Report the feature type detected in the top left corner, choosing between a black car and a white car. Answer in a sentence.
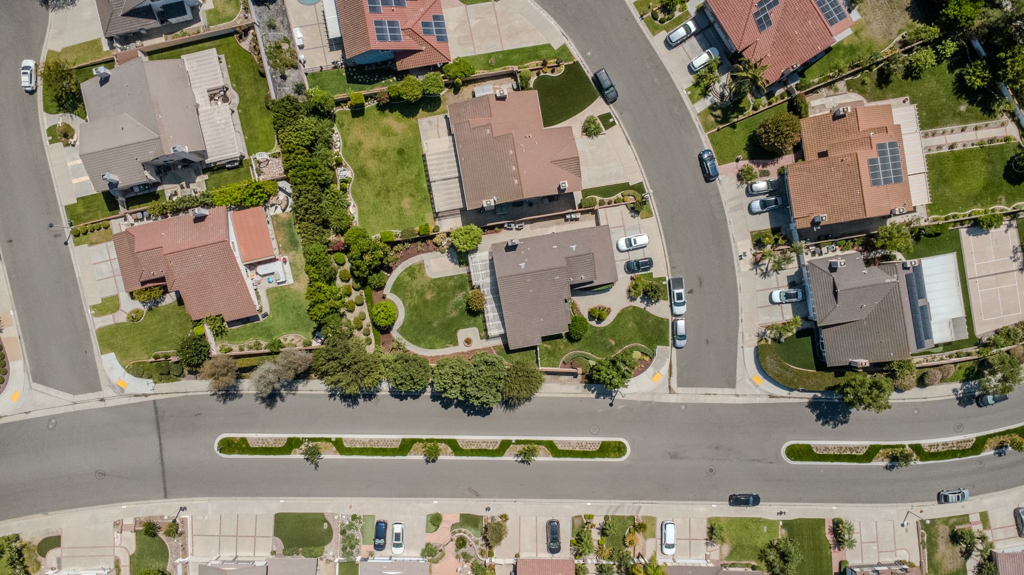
What appears in the top left corner is a white car.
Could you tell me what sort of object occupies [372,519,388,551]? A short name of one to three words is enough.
car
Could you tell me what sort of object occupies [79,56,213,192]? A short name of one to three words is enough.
house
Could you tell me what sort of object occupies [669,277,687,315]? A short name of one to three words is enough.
vehicle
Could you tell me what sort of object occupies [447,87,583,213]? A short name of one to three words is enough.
house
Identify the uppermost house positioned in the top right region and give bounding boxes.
[693,0,854,92]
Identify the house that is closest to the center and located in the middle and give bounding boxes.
[491,225,618,350]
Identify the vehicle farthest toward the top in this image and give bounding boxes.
[664,20,698,46]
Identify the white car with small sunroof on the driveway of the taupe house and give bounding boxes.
[616,234,650,251]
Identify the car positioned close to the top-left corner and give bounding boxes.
[19,59,40,93]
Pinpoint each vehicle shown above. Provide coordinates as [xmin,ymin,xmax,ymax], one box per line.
[19,59,40,93]
[661,520,677,555]
[624,258,654,273]
[592,69,616,103]
[664,20,698,46]
[727,491,760,508]
[669,277,687,315]
[372,519,388,551]
[748,197,782,213]
[687,47,719,72]
[672,318,688,348]
[972,391,1009,409]
[389,519,405,554]
[546,518,562,554]
[769,289,803,304]
[1013,503,1024,538]
[698,149,717,182]
[616,234,650,251]
[745,178,778,195]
